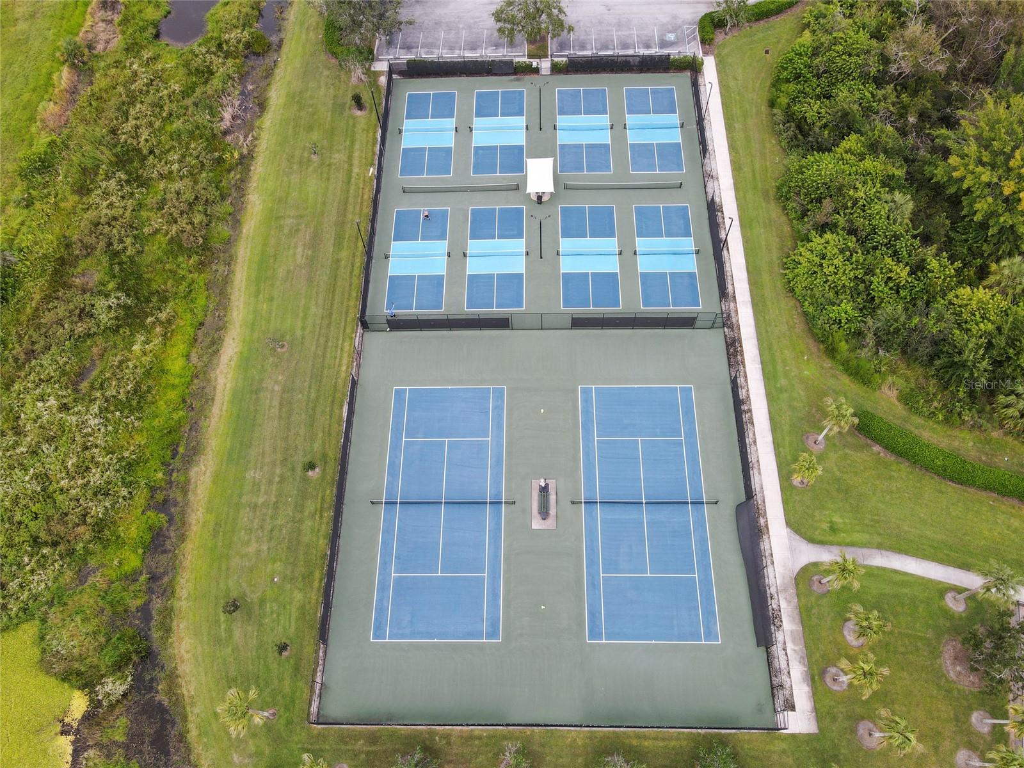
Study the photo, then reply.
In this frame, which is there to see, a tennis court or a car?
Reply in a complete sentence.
Visible in the photo is a tennis court.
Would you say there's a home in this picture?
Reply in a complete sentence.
No, there is no home in the image.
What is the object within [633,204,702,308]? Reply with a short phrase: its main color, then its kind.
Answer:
blue sports court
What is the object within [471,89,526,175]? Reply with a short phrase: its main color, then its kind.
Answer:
blue sports court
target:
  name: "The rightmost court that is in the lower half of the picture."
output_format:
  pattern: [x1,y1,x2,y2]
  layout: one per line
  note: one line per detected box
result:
[579,385,721,643]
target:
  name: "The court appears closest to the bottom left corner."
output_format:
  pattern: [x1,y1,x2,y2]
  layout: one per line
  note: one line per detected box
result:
[370,386,506,642]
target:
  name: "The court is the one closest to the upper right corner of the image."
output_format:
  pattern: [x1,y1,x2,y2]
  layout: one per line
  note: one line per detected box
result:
[624,86,685,172]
